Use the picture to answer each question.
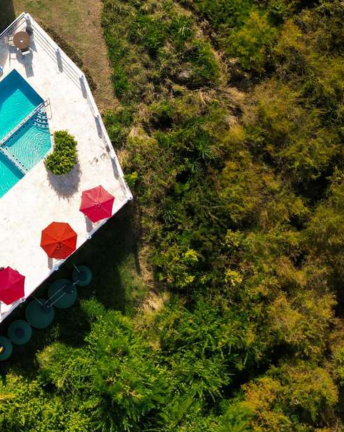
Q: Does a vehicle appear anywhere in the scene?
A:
No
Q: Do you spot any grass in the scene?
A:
Yes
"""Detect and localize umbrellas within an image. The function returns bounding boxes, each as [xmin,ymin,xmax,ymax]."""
[40,221,77,258]
[0,266,25,305]
[78,185,114,223]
